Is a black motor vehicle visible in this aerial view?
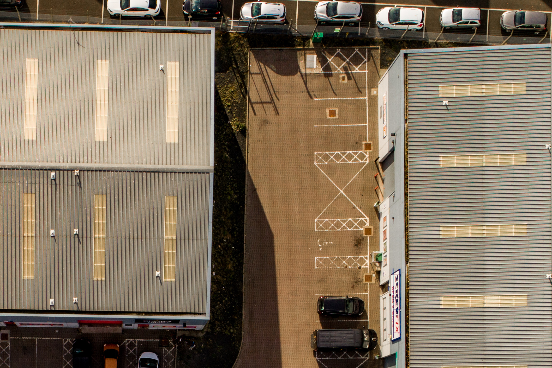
Yes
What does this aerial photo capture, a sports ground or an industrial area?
industrial area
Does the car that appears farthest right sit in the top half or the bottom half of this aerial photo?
top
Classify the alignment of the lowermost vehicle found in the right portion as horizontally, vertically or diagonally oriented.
horizontally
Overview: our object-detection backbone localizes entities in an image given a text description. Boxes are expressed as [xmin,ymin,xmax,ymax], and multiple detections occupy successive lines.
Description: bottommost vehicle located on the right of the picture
[311,327,377,353]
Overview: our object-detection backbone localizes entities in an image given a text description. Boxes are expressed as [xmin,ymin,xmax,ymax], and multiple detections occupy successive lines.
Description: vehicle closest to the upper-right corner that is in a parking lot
[501,8,550,34]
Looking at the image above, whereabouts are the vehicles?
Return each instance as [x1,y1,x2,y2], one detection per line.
[311,327,377,353]
[315,1,364,25]
[373,5,420,31]
[137,352,161,368]
[240,0,287,24]
[182,0,222,19]
[317,293,365,317]
[100,343,121,368]
[440,4,484,28]
[107,0,160,18]
[71,340,93,368]
[501,8,550,34]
